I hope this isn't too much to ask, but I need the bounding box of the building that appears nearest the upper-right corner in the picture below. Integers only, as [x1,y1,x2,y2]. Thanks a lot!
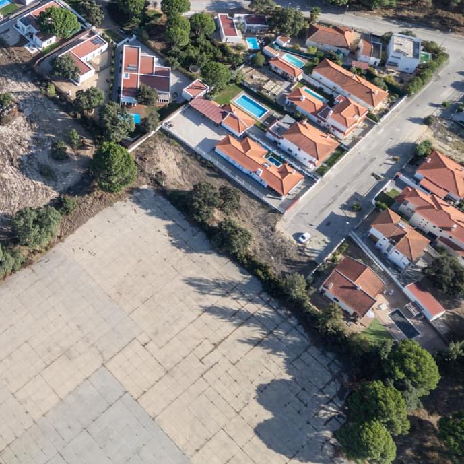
[383,33,420,75]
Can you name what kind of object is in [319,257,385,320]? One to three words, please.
house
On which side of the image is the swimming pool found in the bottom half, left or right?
right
